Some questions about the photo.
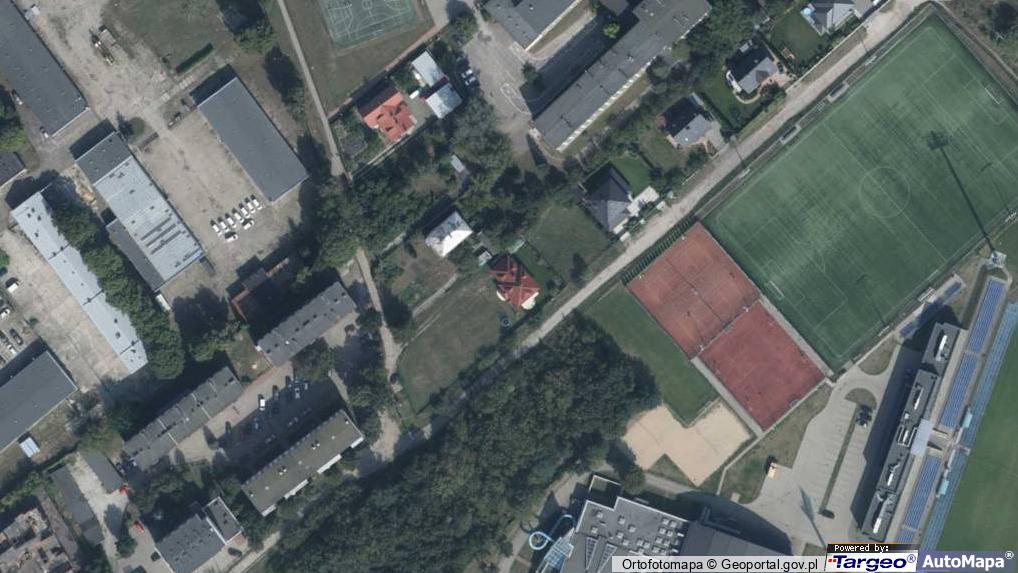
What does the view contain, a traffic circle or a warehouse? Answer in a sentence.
Looking from above, you can make out a warehouse.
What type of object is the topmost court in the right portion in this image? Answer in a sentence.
The topmost court in the right portion is a tennis court.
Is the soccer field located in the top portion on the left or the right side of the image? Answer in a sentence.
The soccer field located in the top portion appears in the right half of the scene.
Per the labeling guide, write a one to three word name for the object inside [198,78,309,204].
warehouse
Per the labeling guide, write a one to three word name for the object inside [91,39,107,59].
vehicle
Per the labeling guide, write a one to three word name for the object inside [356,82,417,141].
house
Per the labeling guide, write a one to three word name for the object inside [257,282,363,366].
building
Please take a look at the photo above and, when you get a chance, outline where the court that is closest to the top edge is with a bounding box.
[318,0,419,49]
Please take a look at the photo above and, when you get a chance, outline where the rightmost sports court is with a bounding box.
[700,300,825,430]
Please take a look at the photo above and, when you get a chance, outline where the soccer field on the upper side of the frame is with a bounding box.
[703,14,1018,371]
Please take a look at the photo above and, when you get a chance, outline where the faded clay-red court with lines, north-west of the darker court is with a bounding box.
[626,223,760,358]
